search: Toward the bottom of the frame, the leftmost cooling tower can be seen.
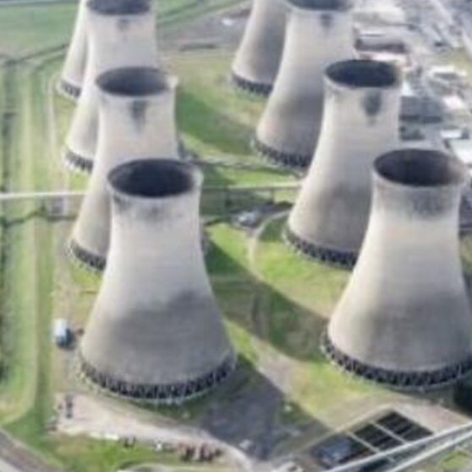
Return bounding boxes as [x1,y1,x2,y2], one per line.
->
[77,157,241,412]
